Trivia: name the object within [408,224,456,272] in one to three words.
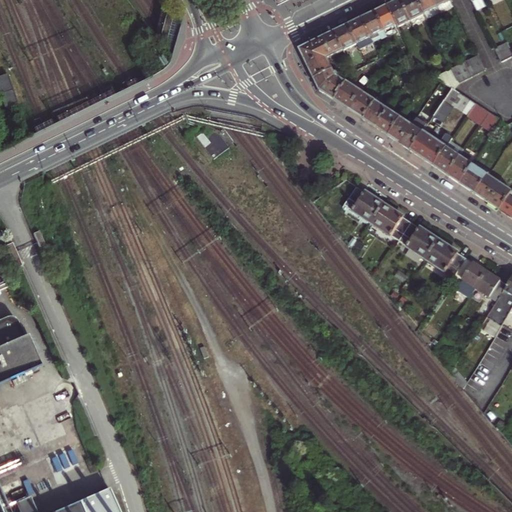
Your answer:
house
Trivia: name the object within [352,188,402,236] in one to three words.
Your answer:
house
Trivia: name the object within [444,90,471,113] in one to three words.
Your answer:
building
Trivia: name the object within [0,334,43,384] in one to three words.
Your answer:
building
